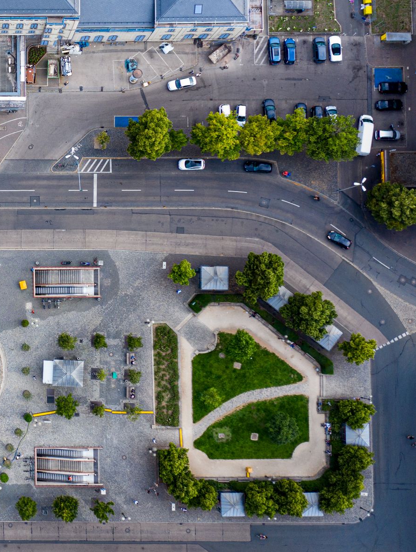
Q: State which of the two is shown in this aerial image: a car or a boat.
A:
car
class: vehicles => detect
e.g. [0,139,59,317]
[268,34,283,63]
[379,81,408,95]
[179,158,206,171]
[356,115,376,157]
[325,105,339,125]
[311,105,323,126]
[167,76,197,91]
[219,104,230,118]
[244,160,272,173]
[283,34,298,64]
[294,103,308,120]
[375,98,403,111]
[263,99,277,124]
[328,34,342,62]
[326,230,353,251]
[235,105,247,126]
[312,35,327,63]
[375,124,401,142]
